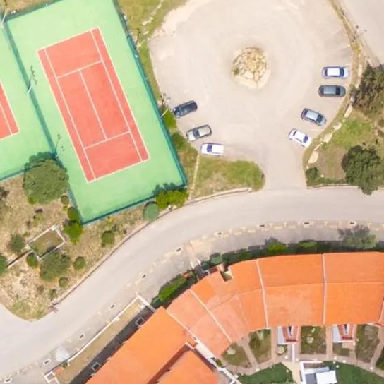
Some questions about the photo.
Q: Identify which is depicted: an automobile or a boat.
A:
automobile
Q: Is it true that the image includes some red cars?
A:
No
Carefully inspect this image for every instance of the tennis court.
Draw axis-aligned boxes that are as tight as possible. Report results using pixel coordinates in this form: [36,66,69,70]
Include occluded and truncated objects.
[9,0,192,223]
[0,0,59,177]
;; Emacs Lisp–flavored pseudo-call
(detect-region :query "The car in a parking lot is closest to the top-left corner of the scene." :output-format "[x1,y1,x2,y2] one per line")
[171,99,198,119]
